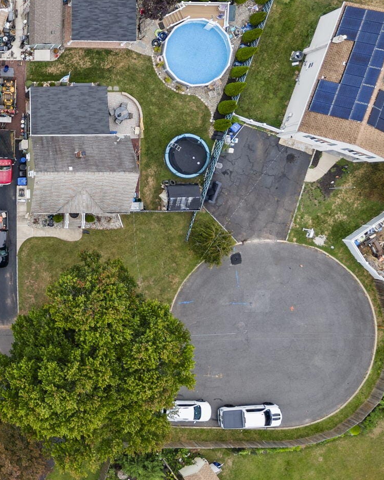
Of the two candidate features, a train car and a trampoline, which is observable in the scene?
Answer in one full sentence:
Looking from above, you can make out a trampoline.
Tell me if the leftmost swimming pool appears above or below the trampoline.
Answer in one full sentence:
The leftmost swimming pool is located above the trampoline in this view.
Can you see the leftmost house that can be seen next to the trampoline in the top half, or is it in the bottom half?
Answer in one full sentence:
The leftmost house that can be seen next to the trampoline is in the top half of the image.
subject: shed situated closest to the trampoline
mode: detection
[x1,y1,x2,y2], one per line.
[162,183,202,210]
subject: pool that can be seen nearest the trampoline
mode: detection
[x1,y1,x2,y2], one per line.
[160,18,232,89]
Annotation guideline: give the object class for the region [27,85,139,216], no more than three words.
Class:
house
